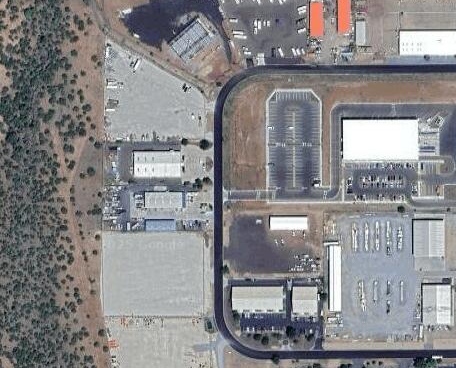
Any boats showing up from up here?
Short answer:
No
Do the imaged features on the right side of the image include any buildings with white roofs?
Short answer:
Yes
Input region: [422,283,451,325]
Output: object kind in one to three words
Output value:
building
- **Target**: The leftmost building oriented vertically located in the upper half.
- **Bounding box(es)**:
[310,1,323,38]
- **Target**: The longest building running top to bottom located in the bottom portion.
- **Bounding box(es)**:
[328,246,341,311]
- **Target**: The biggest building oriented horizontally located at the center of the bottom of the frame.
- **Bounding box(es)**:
[231,287,283,312]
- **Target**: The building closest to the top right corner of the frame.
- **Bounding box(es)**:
[399,29,456,57]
